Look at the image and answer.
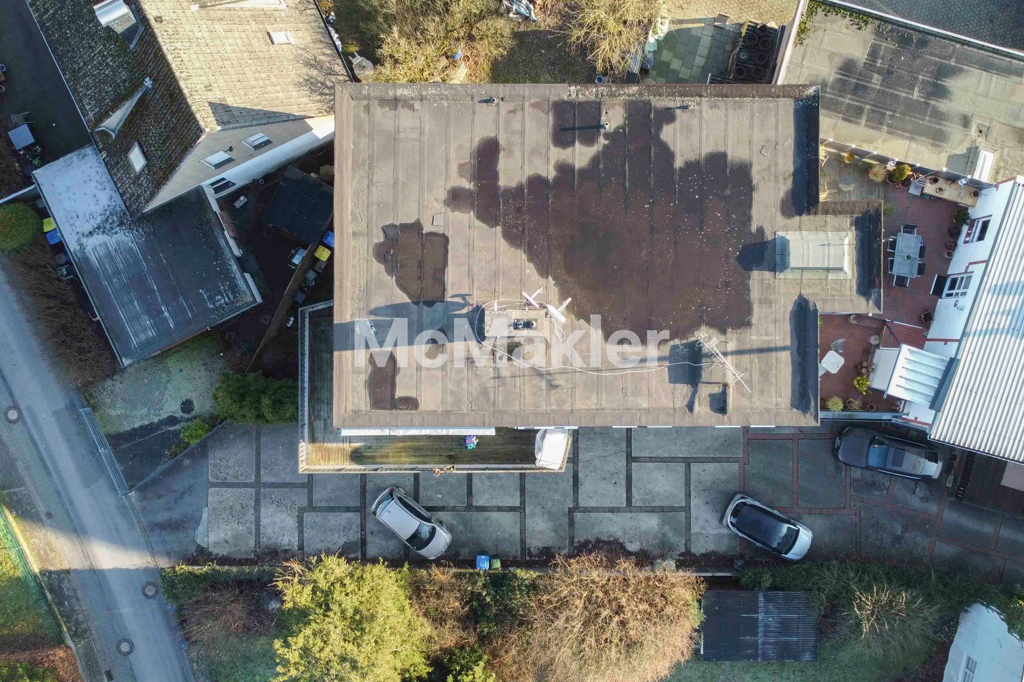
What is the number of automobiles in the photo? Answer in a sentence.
The picture shows 3 automobiles.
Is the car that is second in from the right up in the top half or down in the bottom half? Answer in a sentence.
It is in the bottom half that the car that is second in from the right appears.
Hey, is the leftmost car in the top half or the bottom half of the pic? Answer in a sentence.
Seen from above, the leftmost car lies in the bottom half of the view.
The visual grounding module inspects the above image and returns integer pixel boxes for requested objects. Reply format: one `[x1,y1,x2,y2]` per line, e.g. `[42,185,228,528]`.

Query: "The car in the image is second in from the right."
[718,490,813,563]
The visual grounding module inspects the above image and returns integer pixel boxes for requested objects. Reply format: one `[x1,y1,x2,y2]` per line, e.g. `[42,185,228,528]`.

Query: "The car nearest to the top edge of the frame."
[829,426,946,485]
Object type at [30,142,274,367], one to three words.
building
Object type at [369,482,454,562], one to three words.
car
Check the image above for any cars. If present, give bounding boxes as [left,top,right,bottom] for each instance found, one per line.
[829,426,946,485]
[718,490,813,563]
[369,482,454,562]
